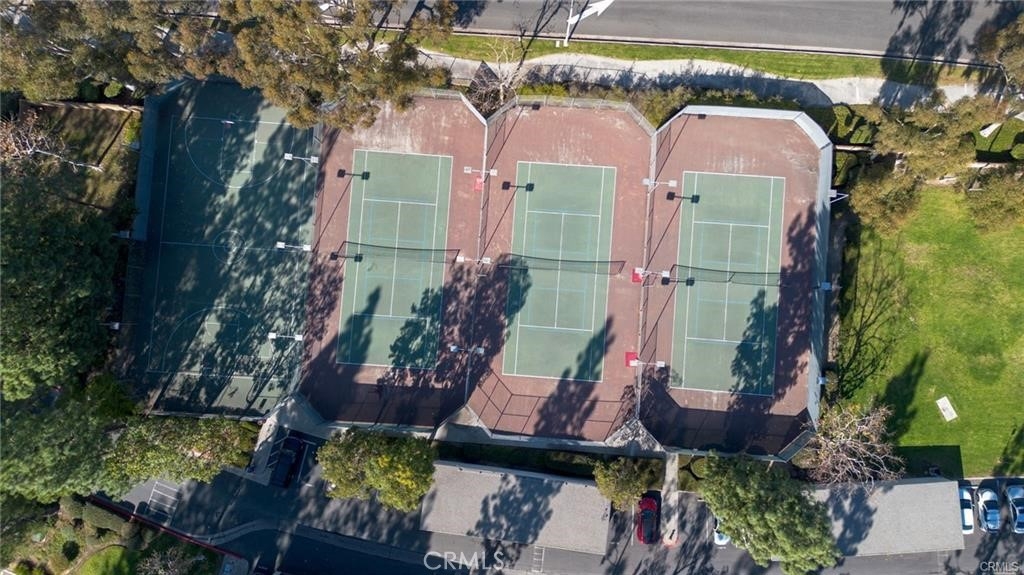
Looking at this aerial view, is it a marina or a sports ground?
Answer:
sports ground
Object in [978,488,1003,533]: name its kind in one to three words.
car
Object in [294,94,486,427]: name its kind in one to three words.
tennis court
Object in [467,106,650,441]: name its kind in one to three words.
tennis court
